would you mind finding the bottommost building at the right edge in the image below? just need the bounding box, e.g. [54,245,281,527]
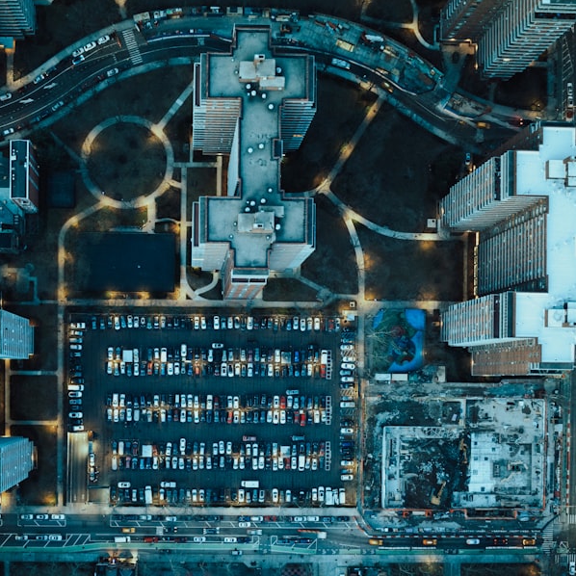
[438,121,576,375]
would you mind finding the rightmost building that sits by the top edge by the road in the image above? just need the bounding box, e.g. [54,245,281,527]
[441,0,576,78]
